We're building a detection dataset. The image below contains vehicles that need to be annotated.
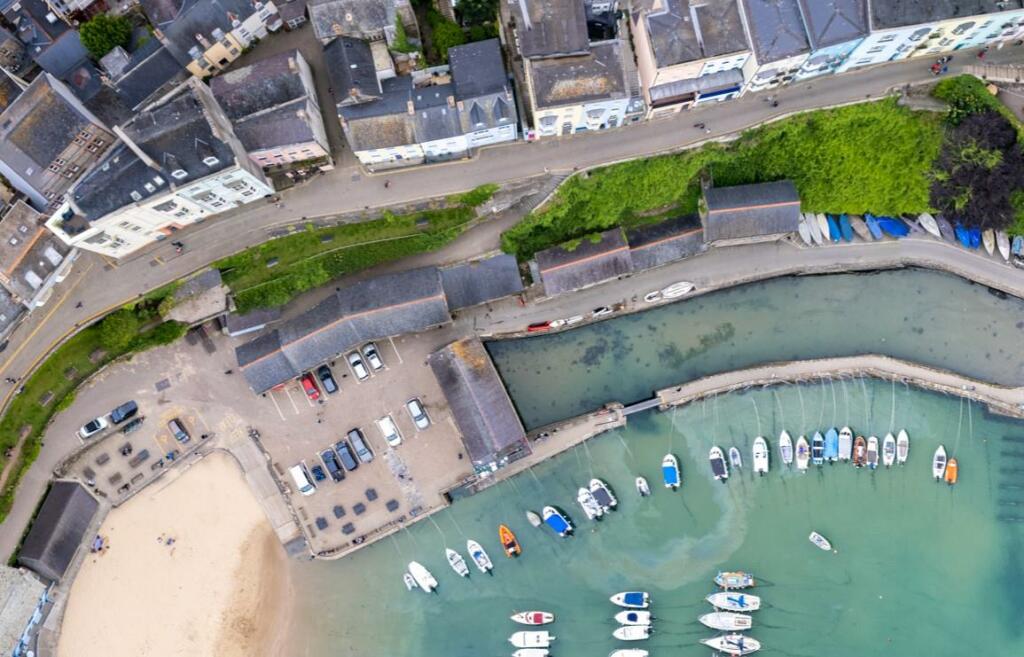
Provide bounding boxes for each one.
[361,343,385,372]
[375,414,402,448]
[286,461,317,497]
[347,428,374,463]
[333,439,361,472]
[346,351,371,382]
[317,365,340,395]
[298,373,321,401]
[78,415,109,439]
[165,415,193,445]
[405,397,430,429]
[110,400,140,424]
[318,447,347,484]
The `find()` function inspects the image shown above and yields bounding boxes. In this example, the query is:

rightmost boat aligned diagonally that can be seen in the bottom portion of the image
[810,532,834,553]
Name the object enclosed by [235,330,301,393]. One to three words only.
building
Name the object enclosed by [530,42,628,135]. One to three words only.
house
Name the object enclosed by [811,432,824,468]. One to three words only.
boat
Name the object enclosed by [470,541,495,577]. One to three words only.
boat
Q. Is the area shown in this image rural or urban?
urban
